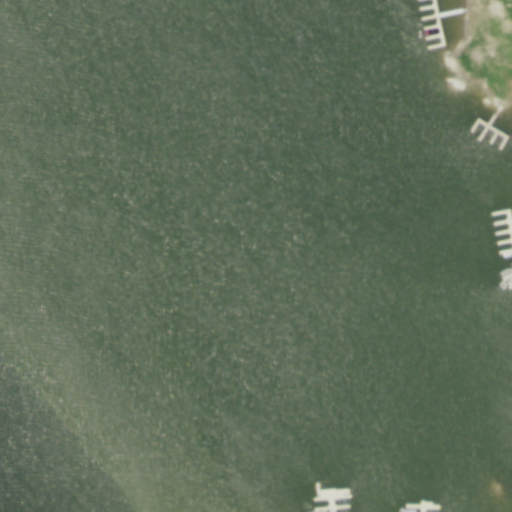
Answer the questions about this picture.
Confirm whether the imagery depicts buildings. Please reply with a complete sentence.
No, there isn't any building down there.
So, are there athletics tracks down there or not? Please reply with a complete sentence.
No, there's no athletics track here.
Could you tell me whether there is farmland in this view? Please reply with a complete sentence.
No, the scene doesn't show any farmland.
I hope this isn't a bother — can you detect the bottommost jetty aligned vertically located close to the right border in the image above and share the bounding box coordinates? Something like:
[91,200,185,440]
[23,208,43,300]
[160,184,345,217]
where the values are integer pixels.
[491,208,512,254]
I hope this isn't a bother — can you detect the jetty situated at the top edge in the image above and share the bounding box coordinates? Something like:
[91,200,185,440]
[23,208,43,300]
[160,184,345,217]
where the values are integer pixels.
[418,0,466,50]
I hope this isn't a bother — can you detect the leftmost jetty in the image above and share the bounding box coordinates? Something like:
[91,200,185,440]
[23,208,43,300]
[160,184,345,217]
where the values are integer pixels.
[314,482,352,512]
